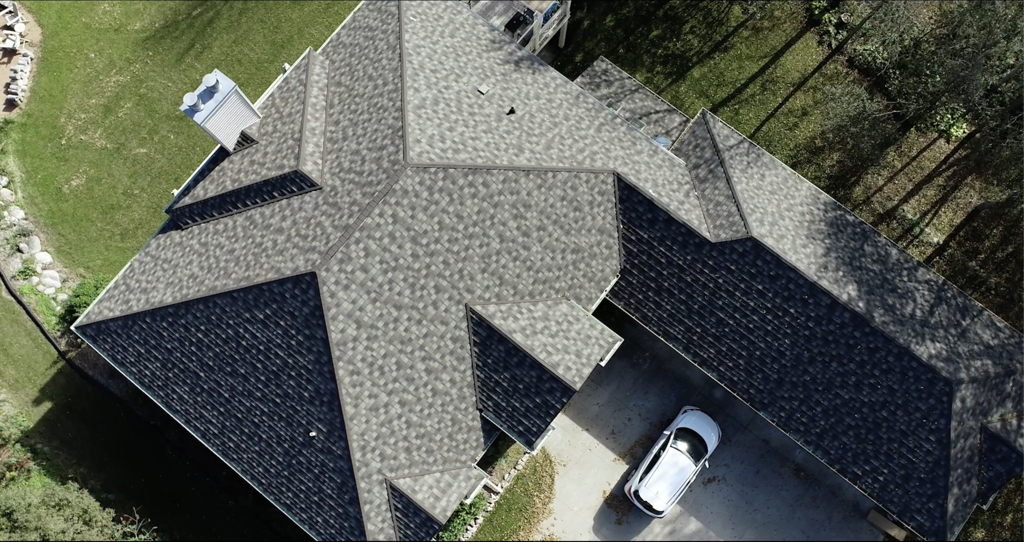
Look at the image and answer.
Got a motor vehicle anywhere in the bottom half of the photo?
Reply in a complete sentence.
Yes, a motor vehicle is visible in the bottom half of the photo.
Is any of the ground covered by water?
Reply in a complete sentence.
No, the picture contains no water.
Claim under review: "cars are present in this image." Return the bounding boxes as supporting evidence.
[621,407,717,518]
